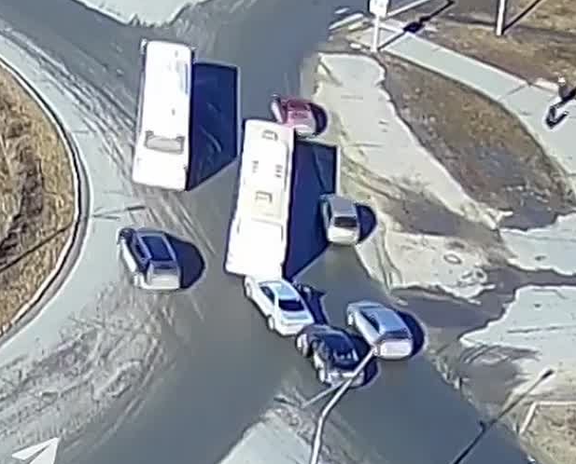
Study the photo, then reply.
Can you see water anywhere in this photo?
No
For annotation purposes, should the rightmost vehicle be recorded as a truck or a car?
car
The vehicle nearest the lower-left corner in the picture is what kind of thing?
car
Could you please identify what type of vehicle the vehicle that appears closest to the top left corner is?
bus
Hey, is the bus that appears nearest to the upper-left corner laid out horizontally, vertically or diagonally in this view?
vertically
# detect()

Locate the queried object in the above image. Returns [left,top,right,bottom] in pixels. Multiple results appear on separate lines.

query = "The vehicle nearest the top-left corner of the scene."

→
[134,40,197,188]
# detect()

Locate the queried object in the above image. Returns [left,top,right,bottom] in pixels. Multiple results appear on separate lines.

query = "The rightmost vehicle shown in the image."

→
[350,303,414,357]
